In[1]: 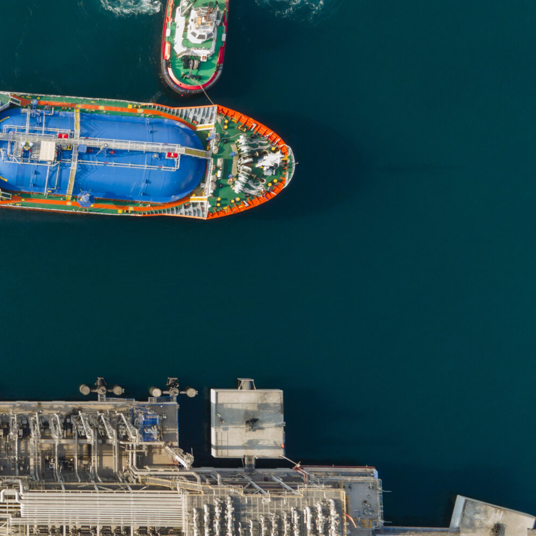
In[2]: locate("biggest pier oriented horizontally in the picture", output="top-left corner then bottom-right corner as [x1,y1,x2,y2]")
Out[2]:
[179,465,379,496]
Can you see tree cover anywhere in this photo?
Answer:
No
